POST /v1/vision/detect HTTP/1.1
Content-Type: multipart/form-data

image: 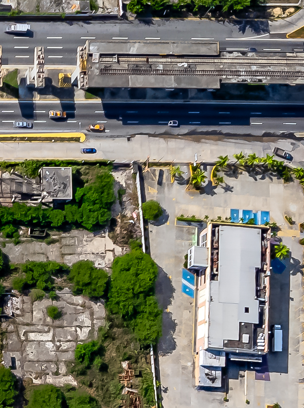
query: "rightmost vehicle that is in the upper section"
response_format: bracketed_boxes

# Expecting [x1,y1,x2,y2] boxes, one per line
[274,145,293,162]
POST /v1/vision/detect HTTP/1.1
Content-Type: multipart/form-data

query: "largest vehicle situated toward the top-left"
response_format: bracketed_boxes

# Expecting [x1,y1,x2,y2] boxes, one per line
[4,20,31,34]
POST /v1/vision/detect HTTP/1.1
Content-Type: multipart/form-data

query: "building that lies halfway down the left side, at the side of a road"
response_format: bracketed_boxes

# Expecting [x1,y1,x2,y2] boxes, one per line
[39,166,73,202]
